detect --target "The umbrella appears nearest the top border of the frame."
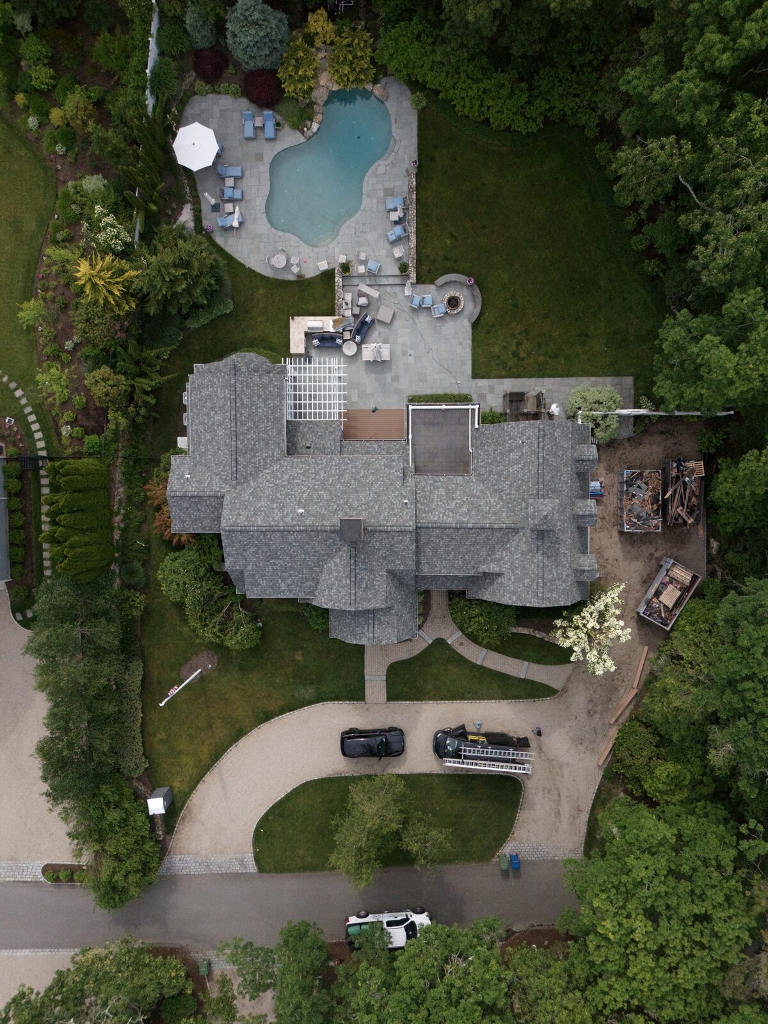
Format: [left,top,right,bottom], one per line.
[174,126,219,172]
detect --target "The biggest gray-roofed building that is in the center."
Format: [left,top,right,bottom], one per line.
[163,353,601,645]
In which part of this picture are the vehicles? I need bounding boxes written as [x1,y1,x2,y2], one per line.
[347,910,431,950]
[341,726,405,759]
[431,724,524,770]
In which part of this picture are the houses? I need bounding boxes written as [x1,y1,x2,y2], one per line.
[163,353,601,645]
[0,458,11,583]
